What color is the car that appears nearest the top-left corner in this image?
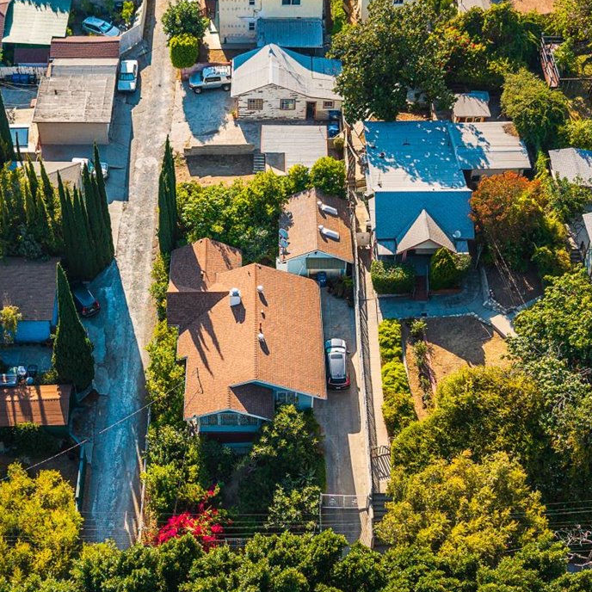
blue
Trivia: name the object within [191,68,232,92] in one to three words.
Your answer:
car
